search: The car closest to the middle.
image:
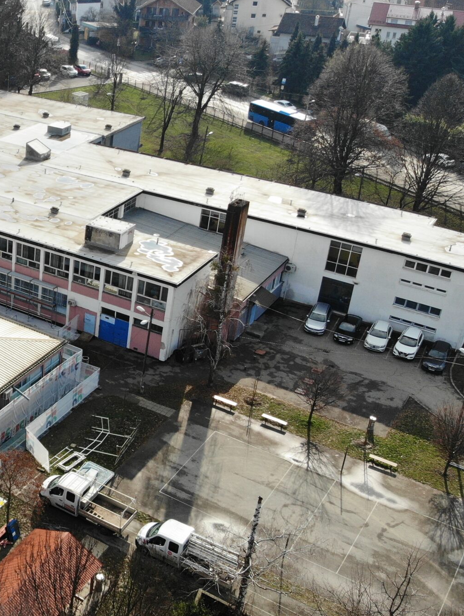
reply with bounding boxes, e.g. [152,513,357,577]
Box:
[307,297,340,330]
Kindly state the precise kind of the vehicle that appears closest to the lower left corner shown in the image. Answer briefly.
truck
